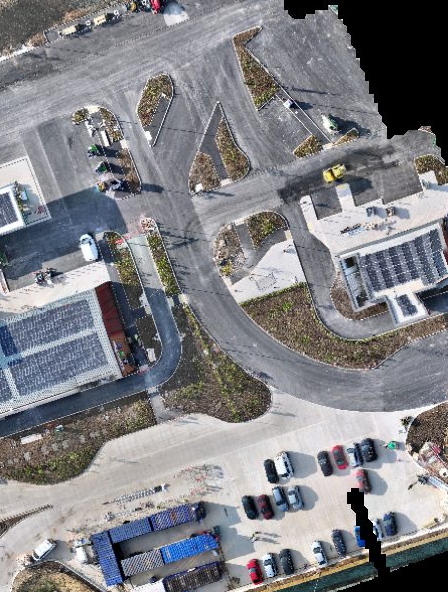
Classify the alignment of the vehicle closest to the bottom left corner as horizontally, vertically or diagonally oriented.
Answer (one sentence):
What the image shows is the vehicle closest to the bottom left corner lying diagonally.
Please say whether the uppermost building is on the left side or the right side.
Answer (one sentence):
You can find the uppermost building on the right side of the picture.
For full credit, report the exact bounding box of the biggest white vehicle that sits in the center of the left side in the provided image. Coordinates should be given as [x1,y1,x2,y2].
[80,233,98,263]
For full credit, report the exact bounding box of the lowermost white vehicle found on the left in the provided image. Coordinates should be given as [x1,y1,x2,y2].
[30,539,58,562]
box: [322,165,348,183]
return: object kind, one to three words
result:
work vehicle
